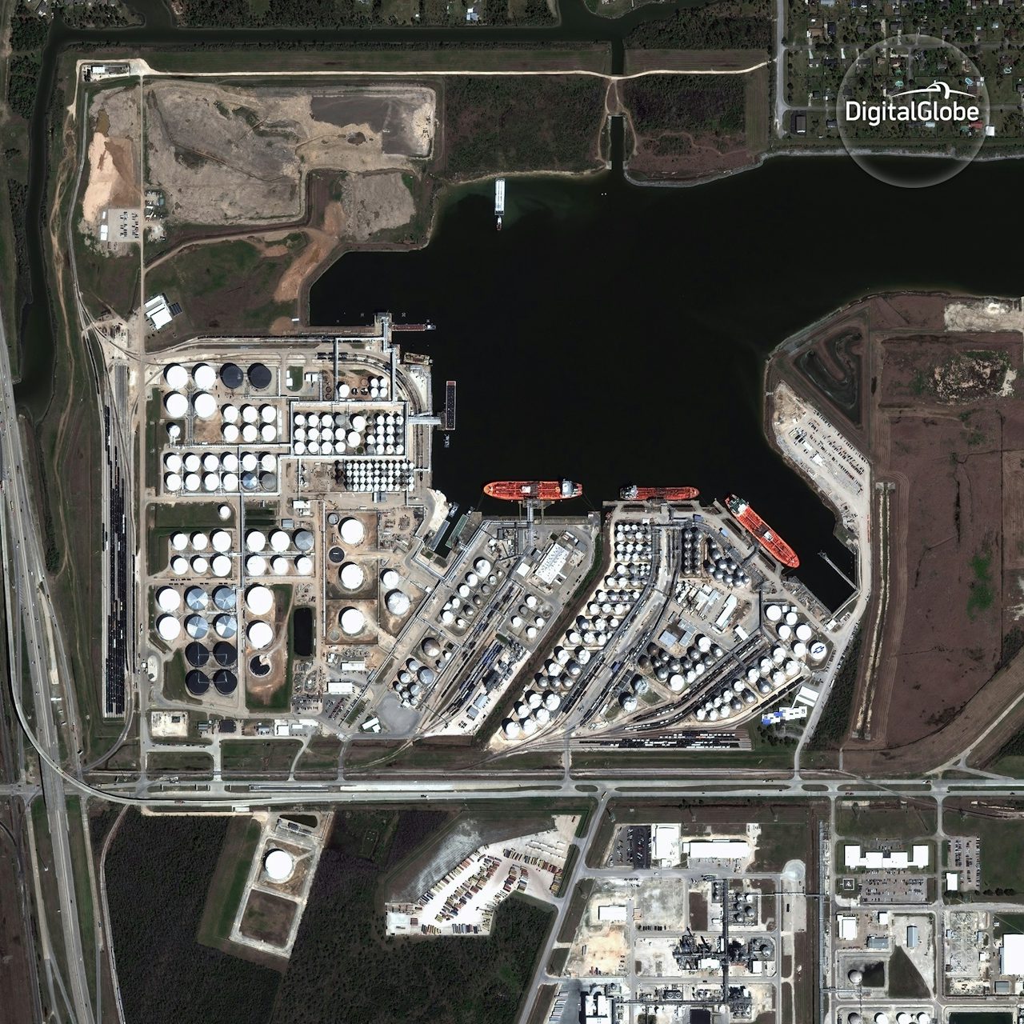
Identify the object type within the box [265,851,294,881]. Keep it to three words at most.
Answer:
storage tank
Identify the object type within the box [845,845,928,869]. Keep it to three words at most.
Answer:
building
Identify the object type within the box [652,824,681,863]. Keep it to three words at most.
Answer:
building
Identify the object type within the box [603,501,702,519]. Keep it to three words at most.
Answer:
pier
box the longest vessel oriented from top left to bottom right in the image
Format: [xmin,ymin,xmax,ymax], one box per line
[724,494,798,566]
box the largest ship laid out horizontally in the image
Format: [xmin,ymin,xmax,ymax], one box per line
[484,478,582,499]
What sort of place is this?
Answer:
port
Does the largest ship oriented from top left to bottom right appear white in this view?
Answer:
No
